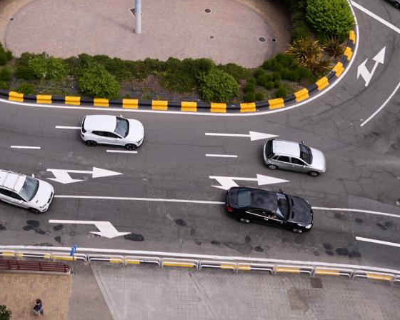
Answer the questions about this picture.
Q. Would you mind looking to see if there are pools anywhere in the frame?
No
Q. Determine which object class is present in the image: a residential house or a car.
car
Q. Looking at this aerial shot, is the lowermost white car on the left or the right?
left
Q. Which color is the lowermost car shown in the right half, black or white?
black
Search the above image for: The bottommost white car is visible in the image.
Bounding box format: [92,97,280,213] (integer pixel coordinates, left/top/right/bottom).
[0,172,58,219]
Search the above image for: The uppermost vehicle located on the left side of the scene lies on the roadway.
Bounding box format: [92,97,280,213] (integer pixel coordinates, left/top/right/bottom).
[79,119,145,154]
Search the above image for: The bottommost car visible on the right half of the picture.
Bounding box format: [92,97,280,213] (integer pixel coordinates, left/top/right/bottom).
[225,188,314,237]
